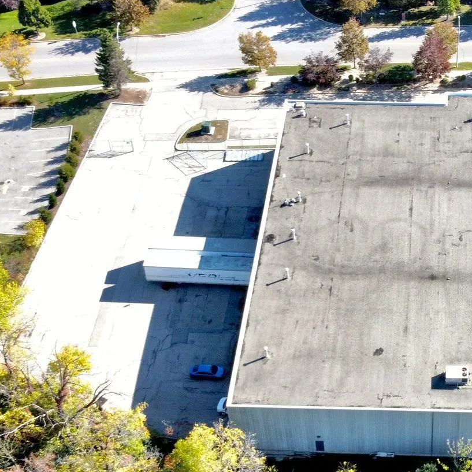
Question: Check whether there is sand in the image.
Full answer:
No, sand can't be seen anywhere here.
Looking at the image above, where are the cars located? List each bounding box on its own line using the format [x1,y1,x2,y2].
[188,364,226,381]
[213,401,230,422]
